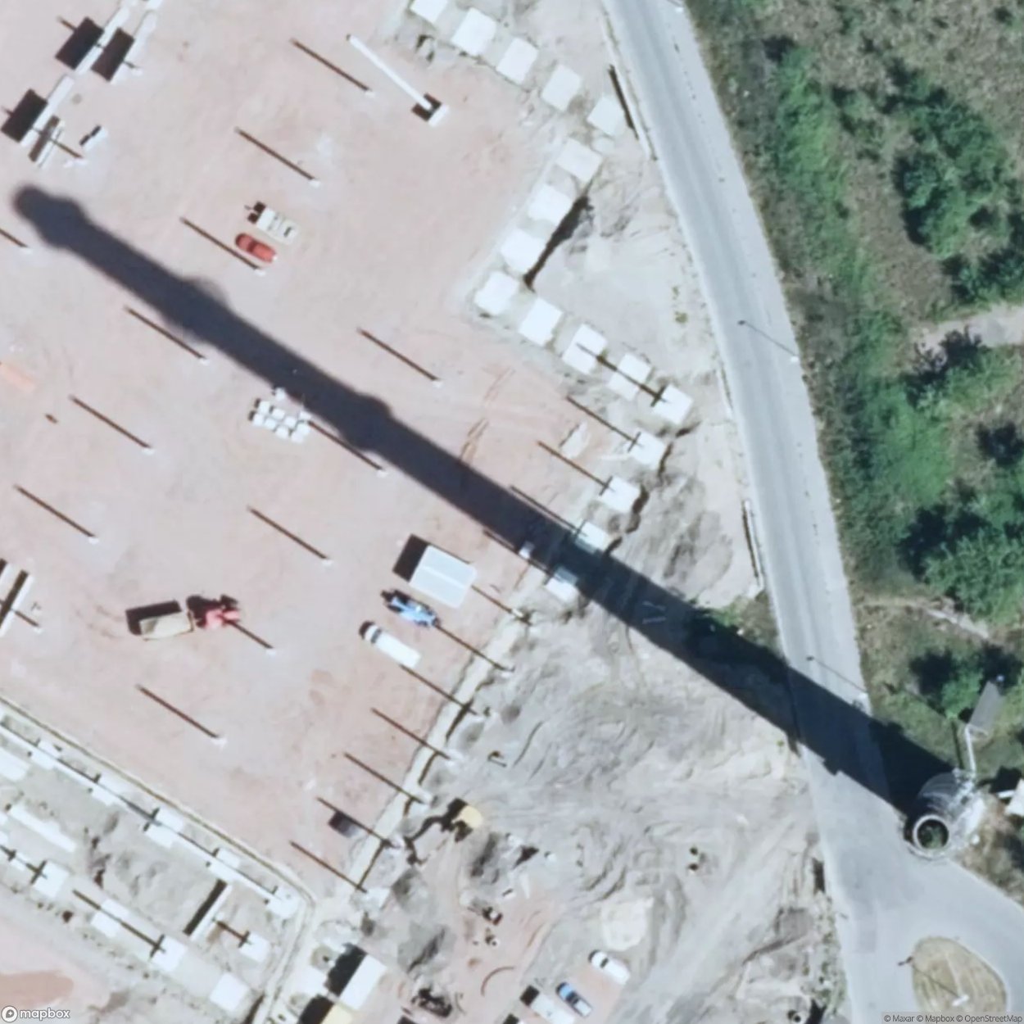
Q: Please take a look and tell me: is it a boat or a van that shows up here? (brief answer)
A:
van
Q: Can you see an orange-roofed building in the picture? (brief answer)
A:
No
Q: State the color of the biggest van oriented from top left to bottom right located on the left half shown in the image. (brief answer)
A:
white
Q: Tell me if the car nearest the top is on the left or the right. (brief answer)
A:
left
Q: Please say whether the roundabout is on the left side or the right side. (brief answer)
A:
right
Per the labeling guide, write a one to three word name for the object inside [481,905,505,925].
work vehicle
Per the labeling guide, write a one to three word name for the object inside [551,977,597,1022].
vehicle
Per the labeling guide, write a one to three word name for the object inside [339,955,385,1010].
building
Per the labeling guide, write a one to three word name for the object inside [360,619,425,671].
van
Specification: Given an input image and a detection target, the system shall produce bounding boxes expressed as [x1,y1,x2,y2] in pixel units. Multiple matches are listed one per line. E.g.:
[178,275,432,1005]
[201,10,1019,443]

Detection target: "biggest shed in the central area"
[410,545,476,607]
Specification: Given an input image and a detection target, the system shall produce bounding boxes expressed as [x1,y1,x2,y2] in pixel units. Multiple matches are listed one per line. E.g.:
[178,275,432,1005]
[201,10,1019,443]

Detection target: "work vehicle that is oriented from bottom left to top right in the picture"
[413,800,481,869]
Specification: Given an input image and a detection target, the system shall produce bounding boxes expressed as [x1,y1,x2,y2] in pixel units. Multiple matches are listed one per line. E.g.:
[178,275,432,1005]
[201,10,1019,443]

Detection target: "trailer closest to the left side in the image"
[140,611,199,639]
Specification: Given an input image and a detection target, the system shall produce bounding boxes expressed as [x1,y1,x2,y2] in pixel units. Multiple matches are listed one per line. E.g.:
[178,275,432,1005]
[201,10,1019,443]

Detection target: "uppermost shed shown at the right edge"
[968,683,1005,731]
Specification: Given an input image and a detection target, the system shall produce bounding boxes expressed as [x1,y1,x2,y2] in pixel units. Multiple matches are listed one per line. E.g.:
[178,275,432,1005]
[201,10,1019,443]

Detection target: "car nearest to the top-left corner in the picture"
[232,230,279,266]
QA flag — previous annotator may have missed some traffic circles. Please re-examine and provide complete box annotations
[912,936,1006,1024]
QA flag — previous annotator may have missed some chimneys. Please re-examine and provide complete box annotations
[902,770,992,861]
